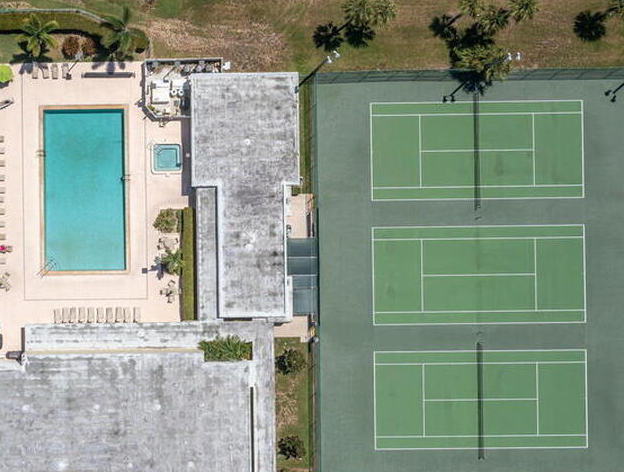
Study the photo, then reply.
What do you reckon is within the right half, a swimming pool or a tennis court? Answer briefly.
tennis court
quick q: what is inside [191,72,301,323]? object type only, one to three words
building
